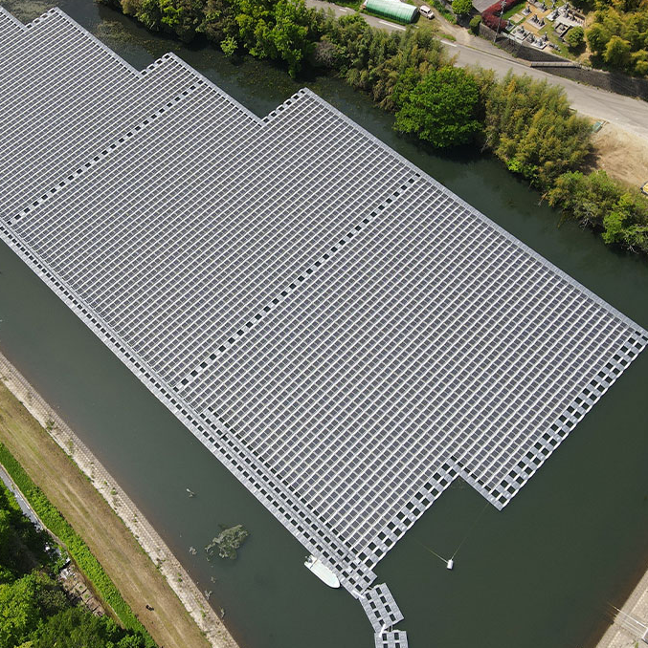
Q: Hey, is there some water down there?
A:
Yes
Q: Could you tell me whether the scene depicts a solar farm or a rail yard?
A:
solar farm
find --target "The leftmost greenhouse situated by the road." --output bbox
[361,0,416,28]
